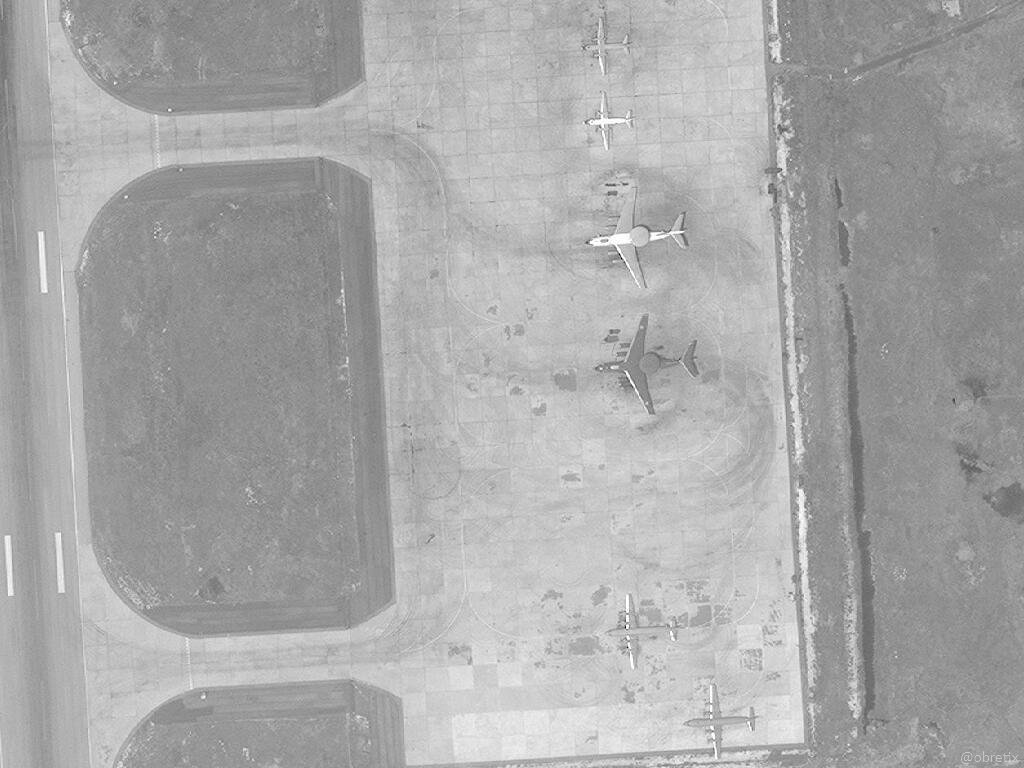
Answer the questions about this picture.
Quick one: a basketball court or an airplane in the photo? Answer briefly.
airplane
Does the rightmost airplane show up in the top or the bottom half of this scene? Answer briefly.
bottom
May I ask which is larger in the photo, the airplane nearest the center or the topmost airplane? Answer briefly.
the airplane nearest the center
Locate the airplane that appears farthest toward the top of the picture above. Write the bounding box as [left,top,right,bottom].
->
[582,18,631,76]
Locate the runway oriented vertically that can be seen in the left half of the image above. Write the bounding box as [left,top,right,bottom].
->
[0,0,92,768]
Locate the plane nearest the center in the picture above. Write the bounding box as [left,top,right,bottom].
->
[595,314,695,414]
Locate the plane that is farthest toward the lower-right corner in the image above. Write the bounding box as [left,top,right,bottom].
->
[684,683,757,759]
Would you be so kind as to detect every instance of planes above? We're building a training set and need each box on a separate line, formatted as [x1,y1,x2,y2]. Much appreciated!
[595,314,695,414]
[584,92,633,150]
[606,593,679,669]
[586,188,687,288]
[582,18,631,76]
[684,683,757,759]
